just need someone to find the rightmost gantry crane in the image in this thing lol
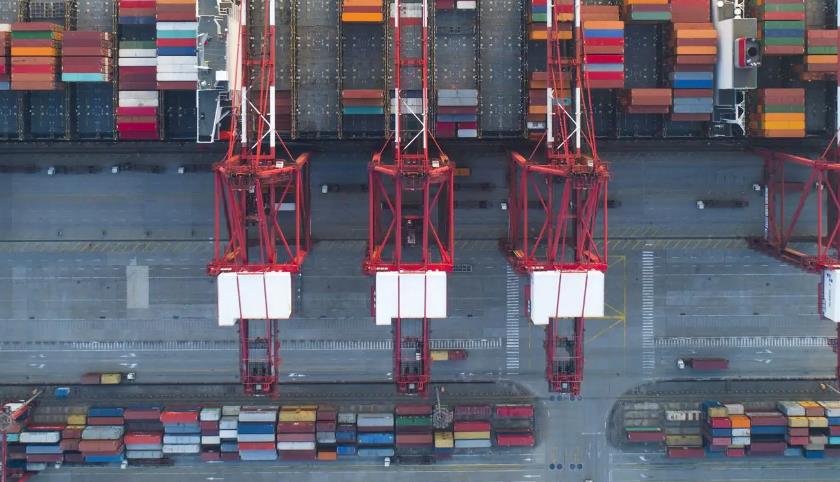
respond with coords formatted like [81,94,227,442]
[743,0,840,390]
